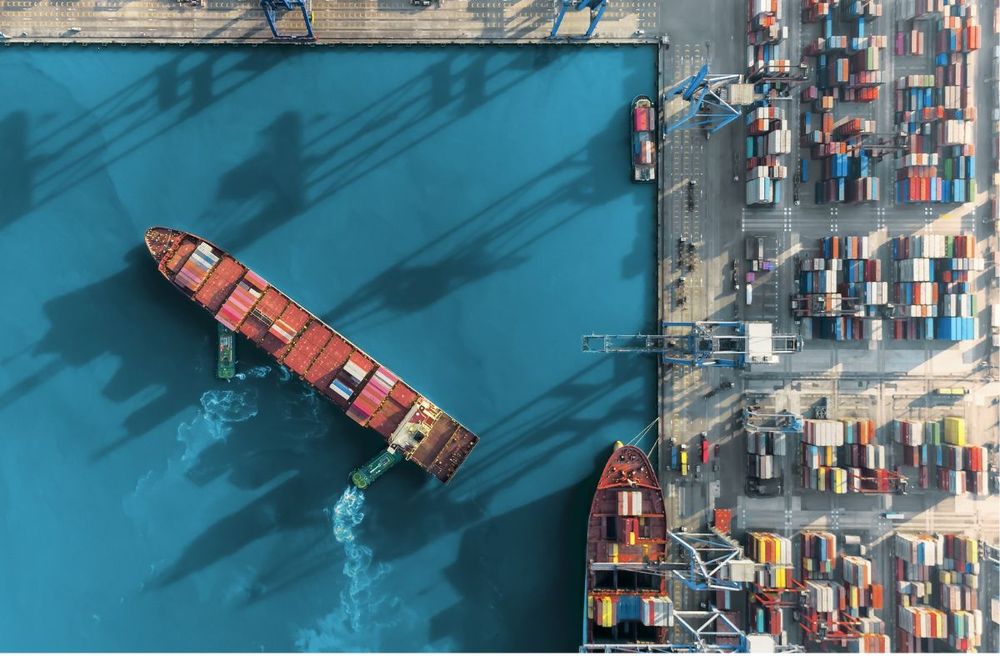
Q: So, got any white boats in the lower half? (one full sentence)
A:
No, I can find no white boat in the lower half.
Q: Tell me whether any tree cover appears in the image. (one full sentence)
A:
No, there's no tree cover in this view.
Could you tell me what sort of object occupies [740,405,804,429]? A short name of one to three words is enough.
container crane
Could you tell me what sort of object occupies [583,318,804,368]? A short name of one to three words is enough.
container crane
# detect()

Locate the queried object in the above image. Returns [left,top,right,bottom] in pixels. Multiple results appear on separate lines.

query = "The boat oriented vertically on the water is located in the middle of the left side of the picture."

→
[216,322,236,380]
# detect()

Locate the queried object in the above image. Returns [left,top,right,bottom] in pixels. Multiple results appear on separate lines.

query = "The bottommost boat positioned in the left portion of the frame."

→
[348,447,398,491]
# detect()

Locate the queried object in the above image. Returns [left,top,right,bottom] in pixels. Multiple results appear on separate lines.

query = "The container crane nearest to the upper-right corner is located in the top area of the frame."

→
[837,131,906,163]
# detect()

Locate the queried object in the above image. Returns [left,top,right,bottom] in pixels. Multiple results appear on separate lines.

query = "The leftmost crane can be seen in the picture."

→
[250,0,318,40]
